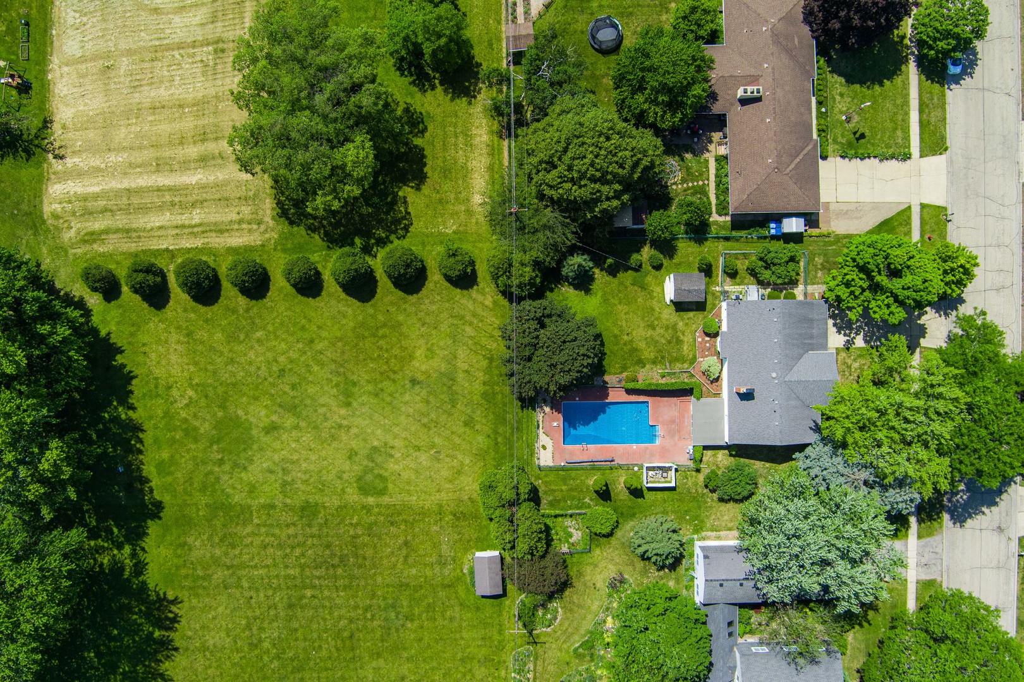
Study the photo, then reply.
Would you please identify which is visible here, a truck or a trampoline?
trampoline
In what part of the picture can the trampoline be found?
top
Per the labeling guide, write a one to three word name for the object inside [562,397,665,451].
swimming pool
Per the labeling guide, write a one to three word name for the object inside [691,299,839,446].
house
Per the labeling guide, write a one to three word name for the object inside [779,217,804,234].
shed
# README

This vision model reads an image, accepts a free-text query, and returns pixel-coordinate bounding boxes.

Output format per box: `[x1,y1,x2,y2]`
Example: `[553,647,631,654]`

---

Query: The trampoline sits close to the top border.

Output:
[588,12,624,54]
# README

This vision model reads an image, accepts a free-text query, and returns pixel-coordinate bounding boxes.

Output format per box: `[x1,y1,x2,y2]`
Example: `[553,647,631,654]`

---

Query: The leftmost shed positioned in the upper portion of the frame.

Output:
[506,23,534,56]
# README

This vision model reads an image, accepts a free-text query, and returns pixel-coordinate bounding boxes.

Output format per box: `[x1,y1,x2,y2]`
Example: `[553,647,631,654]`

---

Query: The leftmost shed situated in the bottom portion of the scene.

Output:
[474,552,503,599]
